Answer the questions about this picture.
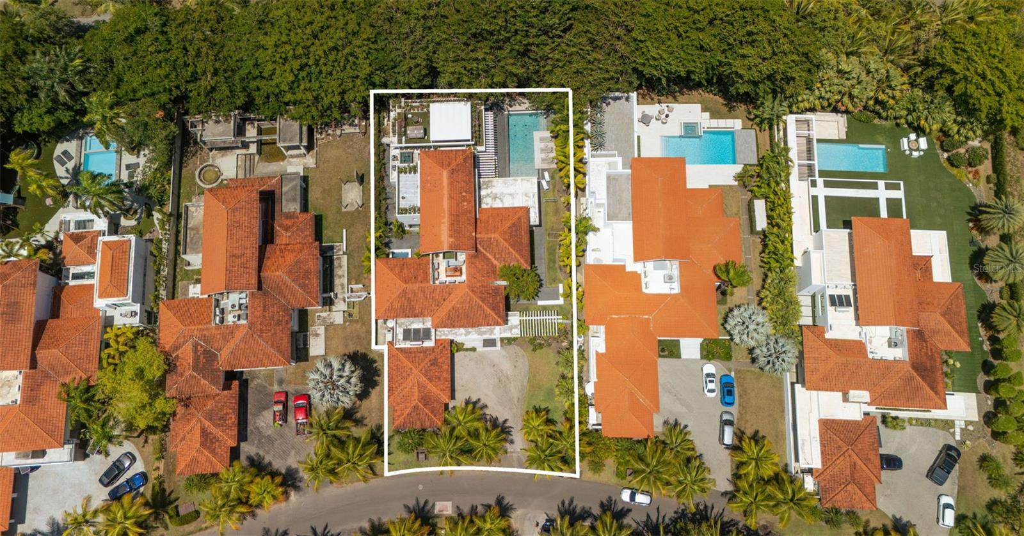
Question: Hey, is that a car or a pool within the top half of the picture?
pool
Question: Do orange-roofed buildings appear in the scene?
Yes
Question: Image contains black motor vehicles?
Yes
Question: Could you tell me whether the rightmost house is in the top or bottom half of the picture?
bottom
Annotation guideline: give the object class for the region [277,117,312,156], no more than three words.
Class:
building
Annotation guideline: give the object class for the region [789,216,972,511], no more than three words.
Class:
house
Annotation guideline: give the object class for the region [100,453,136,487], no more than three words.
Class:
car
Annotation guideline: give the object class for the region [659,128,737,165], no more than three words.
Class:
swimming pool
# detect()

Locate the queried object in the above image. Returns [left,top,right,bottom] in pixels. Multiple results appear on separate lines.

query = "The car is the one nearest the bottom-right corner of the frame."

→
[935,494,957,528]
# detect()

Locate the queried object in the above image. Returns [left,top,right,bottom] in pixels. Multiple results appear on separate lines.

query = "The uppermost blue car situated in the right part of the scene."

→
[718,375,735,407]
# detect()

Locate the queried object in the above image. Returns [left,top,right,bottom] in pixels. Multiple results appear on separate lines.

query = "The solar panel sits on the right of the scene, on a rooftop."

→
[828,294,852,311]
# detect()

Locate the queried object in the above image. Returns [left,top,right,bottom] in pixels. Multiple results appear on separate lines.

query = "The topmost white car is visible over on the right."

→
[700,363,718,397]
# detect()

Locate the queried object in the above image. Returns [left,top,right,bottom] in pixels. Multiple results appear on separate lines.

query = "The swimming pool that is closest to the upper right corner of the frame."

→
[817,143,888,173]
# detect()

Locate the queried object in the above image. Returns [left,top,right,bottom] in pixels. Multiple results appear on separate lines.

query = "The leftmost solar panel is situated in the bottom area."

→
[403,327,431,345]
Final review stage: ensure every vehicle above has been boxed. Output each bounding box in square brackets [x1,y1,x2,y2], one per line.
[110,473,148,499]
[927,444,957,488]
[618,487,653,506]
[935,494,957,528]
[100,453,136,487]
[718,411,736,447]
[879,454,903,470]
[14,464,45,477]
[272,391,289,427]
[718,375,735,407]
[292,396,311,438]
[700,363,718,397]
